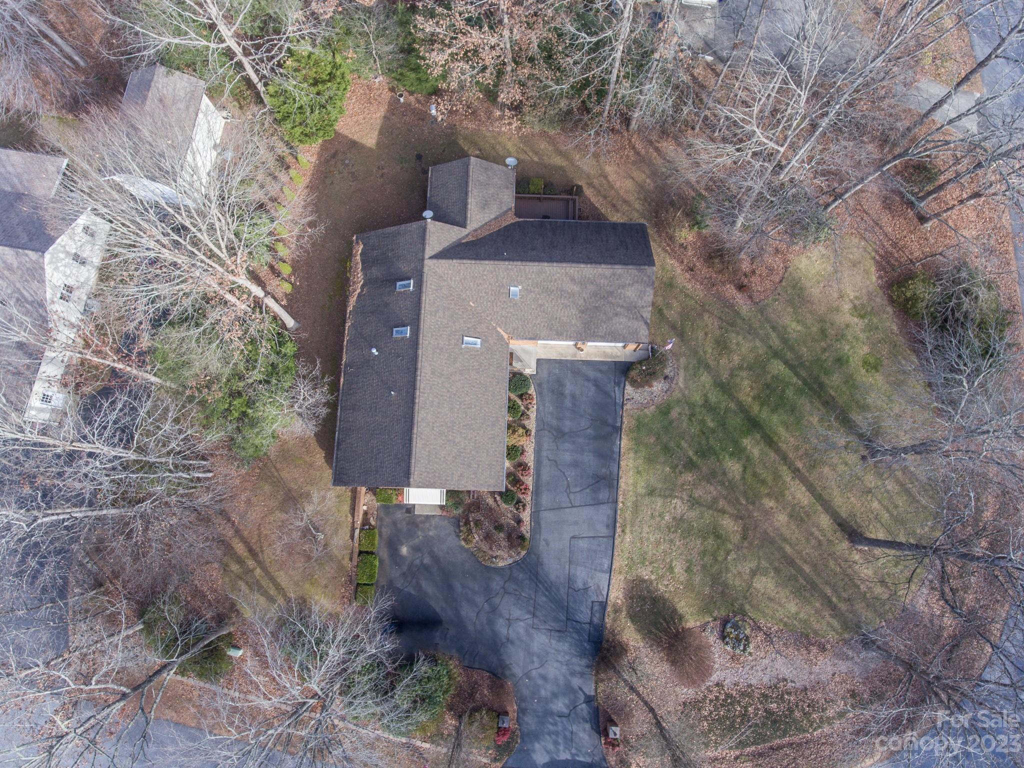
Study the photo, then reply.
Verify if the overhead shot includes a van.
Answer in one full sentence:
No, the frame has no van in it.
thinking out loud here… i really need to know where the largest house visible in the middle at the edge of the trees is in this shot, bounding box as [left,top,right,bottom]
[331,156,656,491]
